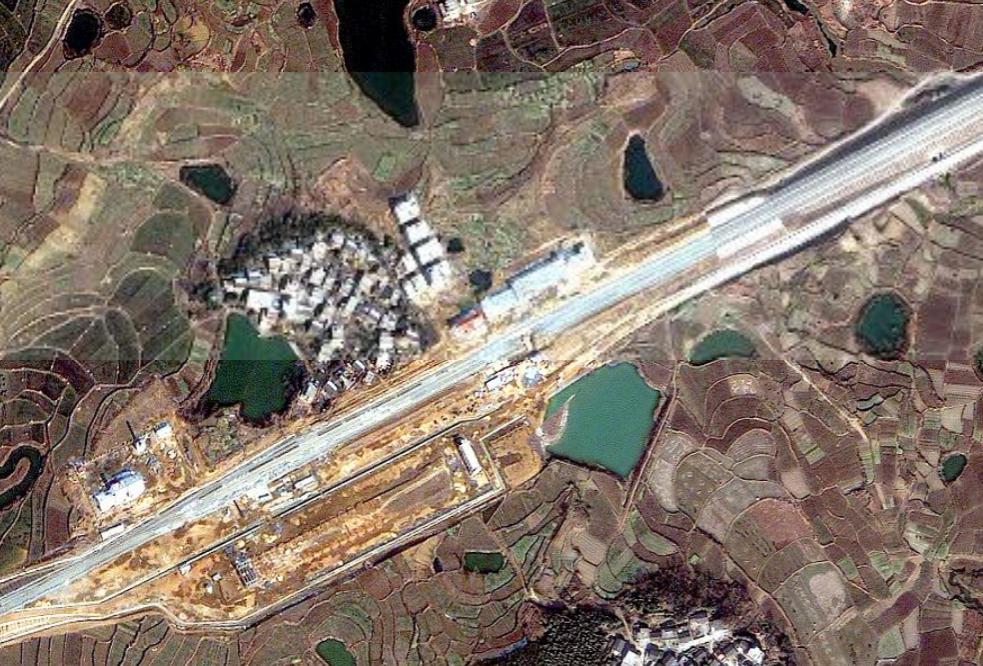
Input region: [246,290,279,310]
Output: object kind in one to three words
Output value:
building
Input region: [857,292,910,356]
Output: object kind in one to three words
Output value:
pond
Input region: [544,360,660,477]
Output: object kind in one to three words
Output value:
pond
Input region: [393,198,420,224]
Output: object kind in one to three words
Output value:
house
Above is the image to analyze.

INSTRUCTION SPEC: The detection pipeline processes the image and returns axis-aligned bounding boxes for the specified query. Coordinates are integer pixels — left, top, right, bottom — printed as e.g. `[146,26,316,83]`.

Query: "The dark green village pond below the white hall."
[207,313,304,420]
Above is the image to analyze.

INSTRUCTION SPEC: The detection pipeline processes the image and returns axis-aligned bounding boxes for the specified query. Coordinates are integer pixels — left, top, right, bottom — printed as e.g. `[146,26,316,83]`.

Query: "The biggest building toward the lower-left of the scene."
[93,475,142,511]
